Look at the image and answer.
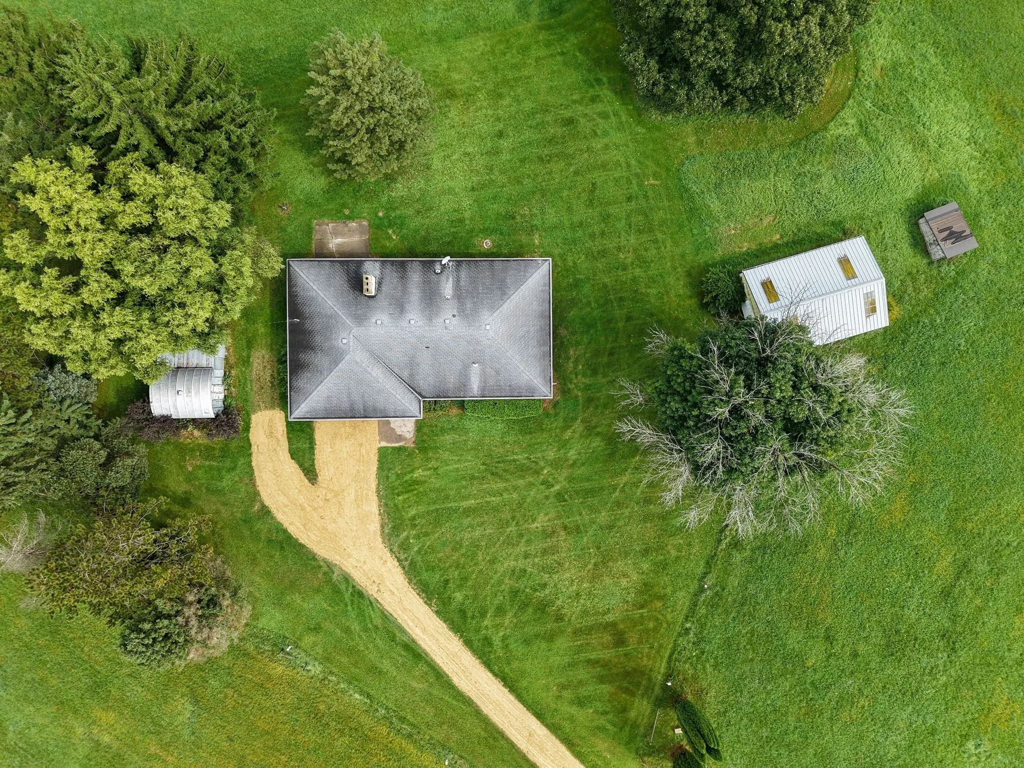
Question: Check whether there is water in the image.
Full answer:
No, no water is visible.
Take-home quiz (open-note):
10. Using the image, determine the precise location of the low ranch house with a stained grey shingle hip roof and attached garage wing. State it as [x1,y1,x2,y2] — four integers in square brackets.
[286,256,557,422]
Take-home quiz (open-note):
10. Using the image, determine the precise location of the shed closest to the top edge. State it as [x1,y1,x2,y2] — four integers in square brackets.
[913,202,979,259]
